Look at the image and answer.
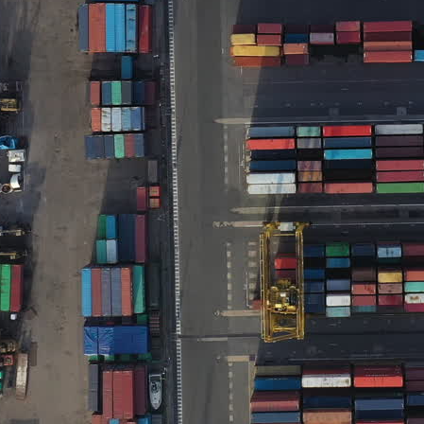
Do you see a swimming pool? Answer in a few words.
No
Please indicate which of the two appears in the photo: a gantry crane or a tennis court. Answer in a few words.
gantry crane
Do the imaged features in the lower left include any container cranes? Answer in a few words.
No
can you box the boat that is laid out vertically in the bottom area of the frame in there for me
[149,374,162,411]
